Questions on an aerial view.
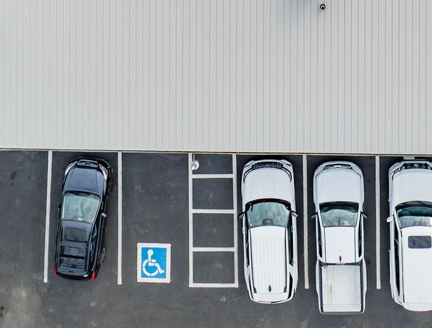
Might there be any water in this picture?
No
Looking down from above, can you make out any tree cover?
No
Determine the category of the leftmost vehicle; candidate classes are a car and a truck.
car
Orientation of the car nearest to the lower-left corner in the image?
from top to bottom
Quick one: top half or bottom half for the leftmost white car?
bottom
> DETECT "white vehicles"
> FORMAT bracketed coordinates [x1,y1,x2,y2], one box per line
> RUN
[385,158,432,308]
[308,160,371,319]
[235,160,302,305]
